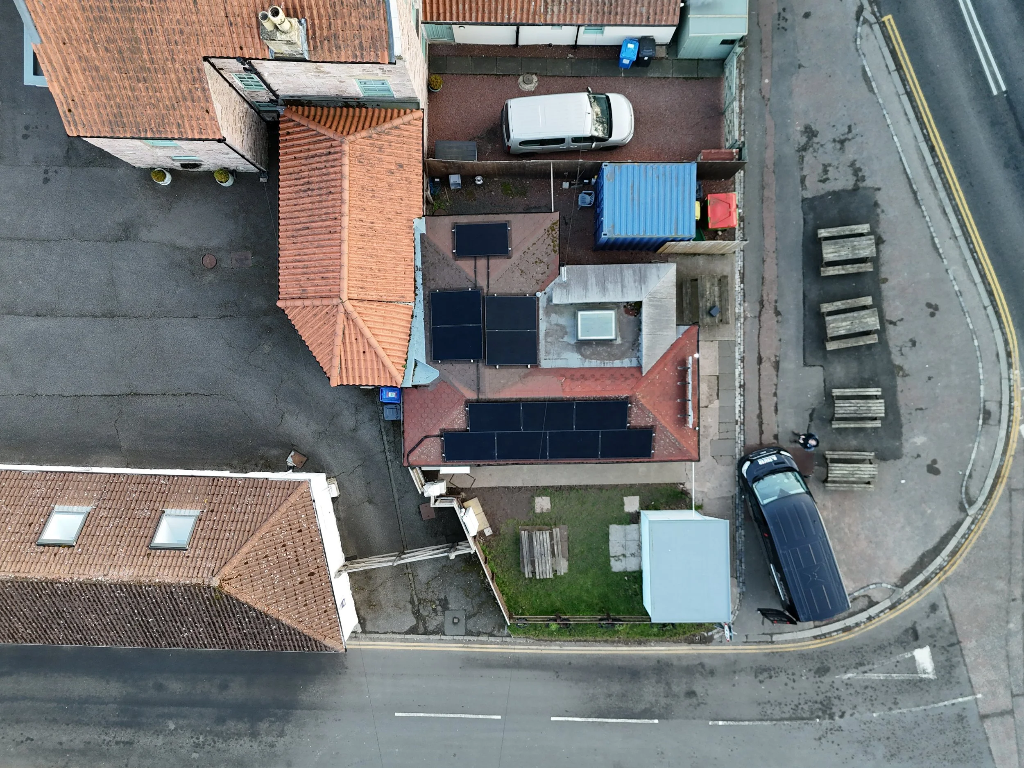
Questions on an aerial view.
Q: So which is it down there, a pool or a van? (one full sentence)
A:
I can see a van in this picture.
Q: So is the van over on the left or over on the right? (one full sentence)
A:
The van is on the right side of the image.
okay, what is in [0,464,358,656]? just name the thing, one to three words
house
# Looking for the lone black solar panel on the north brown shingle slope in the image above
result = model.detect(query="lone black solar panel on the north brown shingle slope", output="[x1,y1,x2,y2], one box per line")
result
[453,223,511,257]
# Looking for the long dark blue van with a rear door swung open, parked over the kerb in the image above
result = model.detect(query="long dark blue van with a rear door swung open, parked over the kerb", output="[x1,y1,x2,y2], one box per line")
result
[737,447,847,623]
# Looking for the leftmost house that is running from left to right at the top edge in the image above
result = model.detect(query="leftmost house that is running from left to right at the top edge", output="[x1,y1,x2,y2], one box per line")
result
[11,0,428,172]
